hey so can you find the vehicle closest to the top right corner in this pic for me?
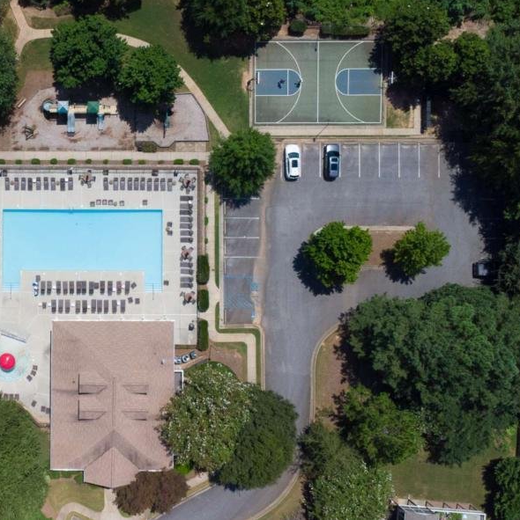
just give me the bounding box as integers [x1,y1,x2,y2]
[323,143,340,178]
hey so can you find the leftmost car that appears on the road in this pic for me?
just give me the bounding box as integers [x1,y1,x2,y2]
[284,144,301,181]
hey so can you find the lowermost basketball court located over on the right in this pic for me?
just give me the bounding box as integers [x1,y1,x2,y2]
[254,38,385,126]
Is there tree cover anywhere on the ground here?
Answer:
Yes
